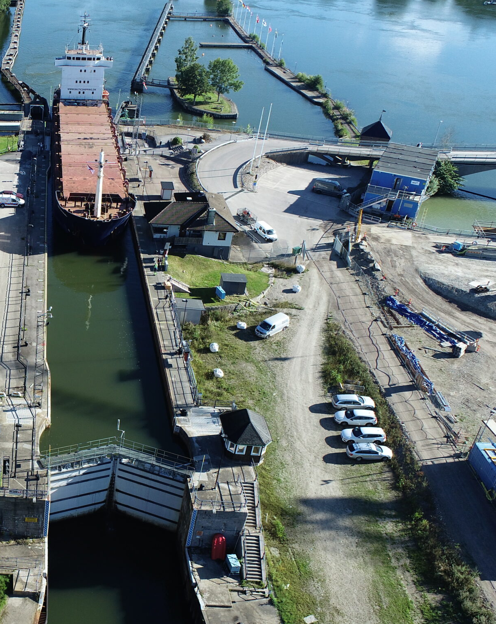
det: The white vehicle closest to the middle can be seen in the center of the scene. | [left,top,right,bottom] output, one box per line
[256,306,296,333]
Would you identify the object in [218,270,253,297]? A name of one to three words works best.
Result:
shed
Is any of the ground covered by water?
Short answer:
Yes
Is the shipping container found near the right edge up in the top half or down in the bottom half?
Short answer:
bottom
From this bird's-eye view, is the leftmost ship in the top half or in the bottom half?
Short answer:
top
